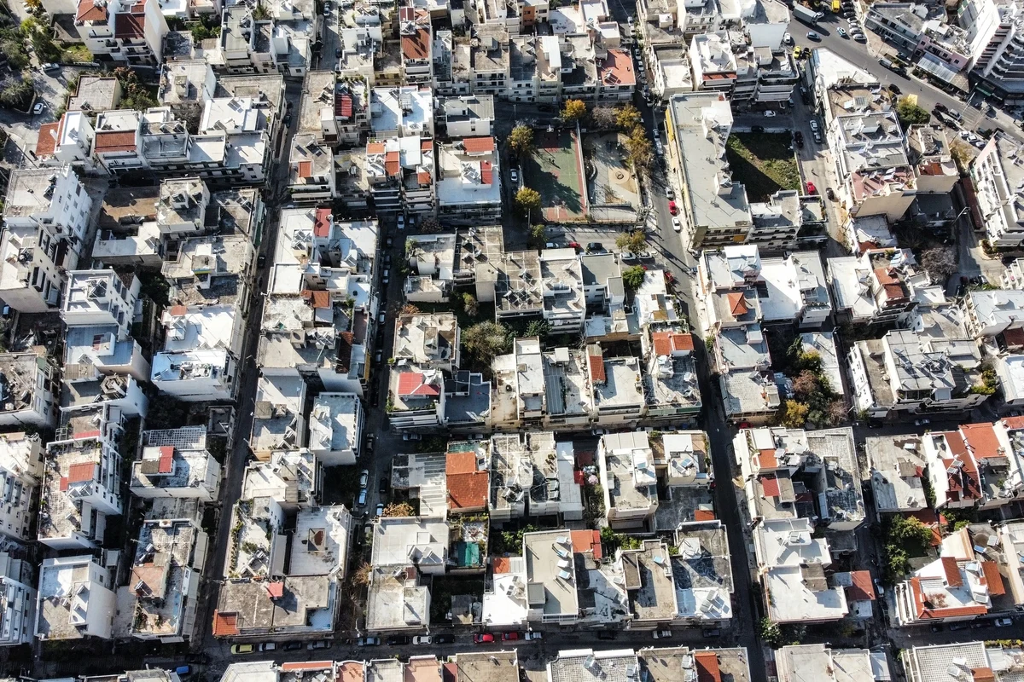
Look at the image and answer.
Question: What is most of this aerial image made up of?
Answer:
buildings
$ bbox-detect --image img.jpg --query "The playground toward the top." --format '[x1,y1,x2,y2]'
[591,129,654,219]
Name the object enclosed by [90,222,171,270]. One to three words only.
house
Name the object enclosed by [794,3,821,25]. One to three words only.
truck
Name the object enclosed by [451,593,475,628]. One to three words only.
shed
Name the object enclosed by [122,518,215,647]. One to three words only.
building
